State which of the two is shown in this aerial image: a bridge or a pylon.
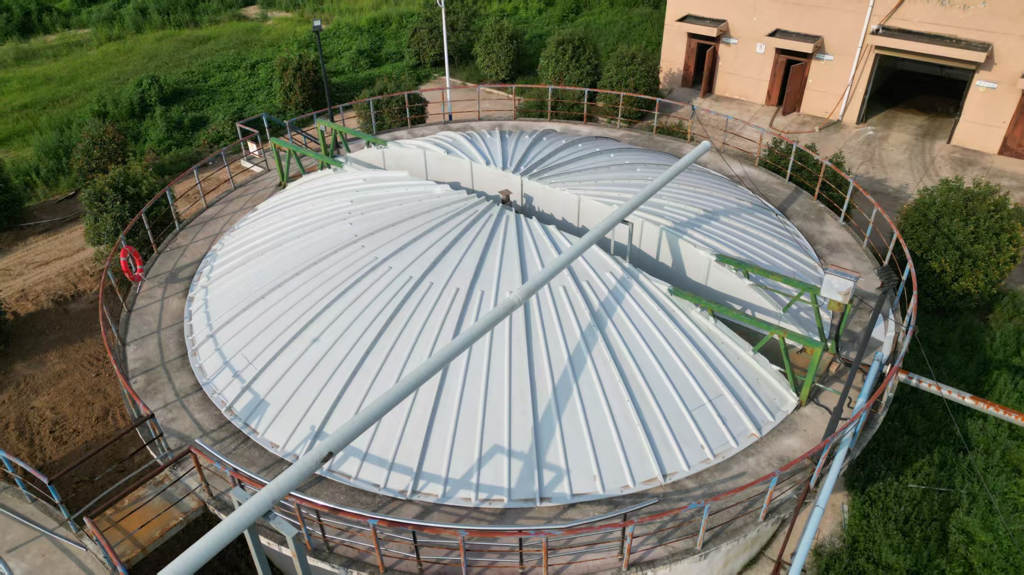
bridge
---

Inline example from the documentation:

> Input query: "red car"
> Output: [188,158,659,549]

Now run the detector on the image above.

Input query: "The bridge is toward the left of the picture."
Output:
[75,467,208,571]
